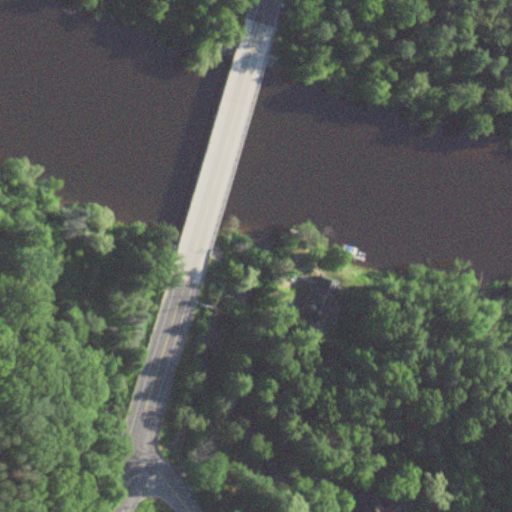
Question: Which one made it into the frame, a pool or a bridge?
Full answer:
Of the two, only a bridge appears.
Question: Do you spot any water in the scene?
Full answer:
Yes, the picture does contain water.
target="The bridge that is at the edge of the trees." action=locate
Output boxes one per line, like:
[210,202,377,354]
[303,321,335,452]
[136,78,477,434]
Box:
[173,20,278,290]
